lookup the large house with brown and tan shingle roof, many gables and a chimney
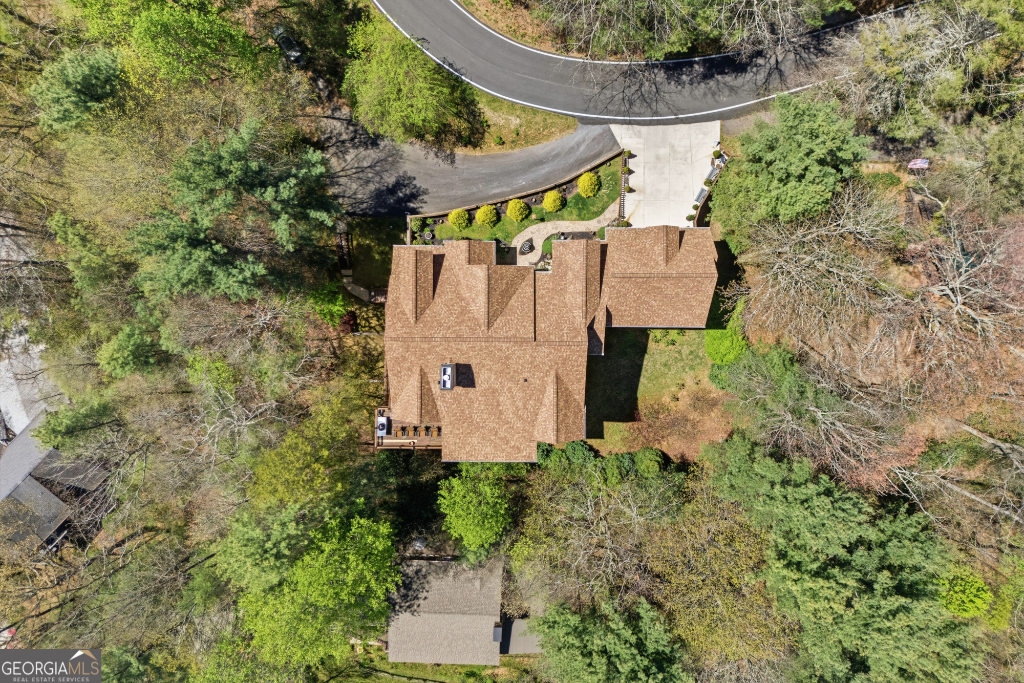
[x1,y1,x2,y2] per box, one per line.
[384,225,718,463]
